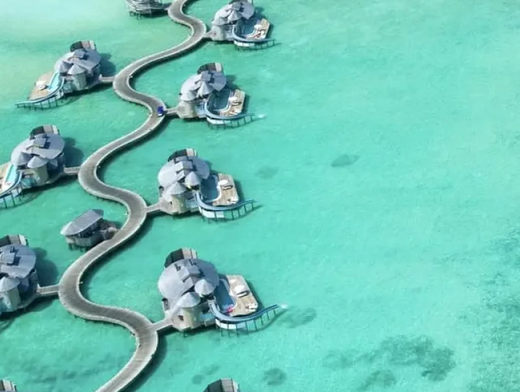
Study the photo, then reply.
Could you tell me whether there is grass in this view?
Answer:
No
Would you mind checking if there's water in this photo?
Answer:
Yes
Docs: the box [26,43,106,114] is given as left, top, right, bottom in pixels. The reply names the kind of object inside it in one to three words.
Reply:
house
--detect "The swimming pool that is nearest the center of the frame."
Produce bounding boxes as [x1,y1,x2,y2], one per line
[204,173,225,204]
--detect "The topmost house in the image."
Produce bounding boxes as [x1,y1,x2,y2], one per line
[213,0,291,52]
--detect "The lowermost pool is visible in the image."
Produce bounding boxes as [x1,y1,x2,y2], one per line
[212,276,236,316]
